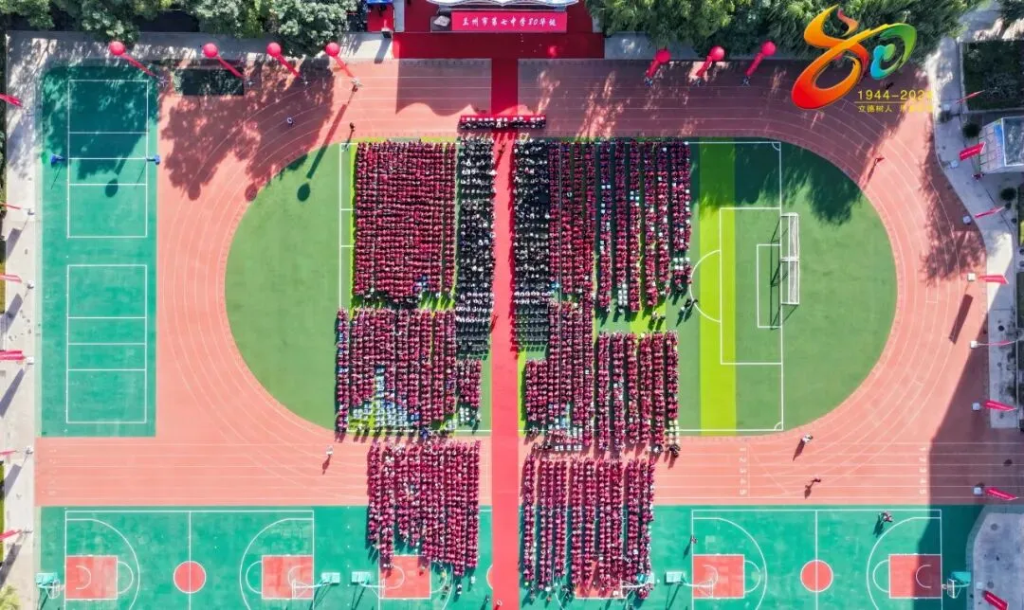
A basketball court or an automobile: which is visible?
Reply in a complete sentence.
Looking from above, you can make out a basketball court.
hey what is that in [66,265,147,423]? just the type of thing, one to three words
sports court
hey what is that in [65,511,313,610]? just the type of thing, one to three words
basketball court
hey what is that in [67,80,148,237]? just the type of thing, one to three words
sports court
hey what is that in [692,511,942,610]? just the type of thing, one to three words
basketball court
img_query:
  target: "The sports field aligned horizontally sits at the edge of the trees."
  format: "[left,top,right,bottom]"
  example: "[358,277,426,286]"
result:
[226,136,898,436]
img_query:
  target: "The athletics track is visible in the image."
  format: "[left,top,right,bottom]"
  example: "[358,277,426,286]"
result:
[36,58,1024,506]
